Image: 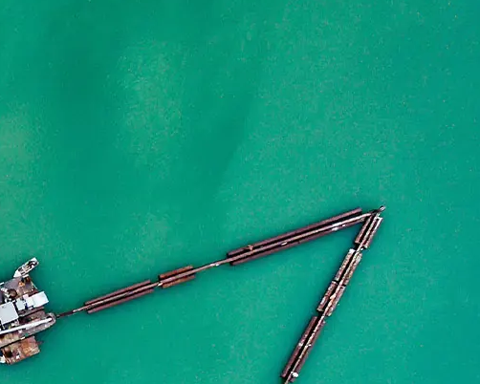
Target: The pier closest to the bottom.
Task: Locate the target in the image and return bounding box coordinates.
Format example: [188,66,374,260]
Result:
[280,315,326,384]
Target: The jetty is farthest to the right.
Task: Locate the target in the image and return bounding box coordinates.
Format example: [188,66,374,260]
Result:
[354,215,382,250]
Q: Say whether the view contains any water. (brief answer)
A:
Yes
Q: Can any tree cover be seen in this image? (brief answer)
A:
No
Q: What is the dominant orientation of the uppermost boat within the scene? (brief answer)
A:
on a diagonal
